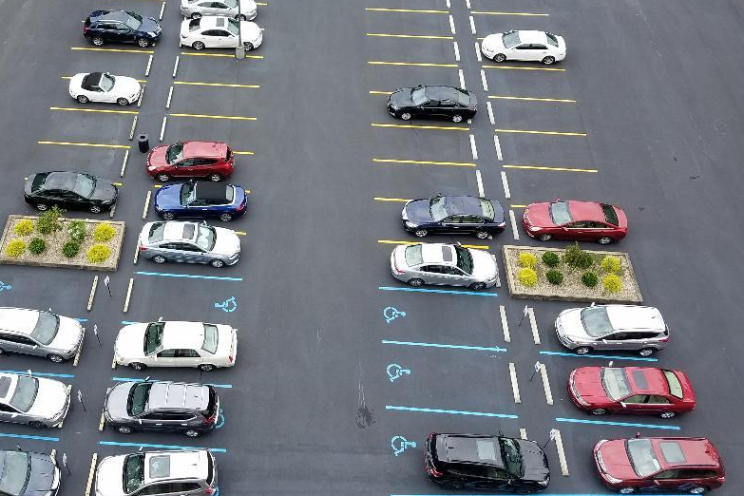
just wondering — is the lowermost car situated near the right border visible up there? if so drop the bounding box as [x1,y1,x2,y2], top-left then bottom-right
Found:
[593,427,734,495]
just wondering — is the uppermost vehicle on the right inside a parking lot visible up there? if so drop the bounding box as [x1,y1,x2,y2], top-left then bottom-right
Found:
[481,29,569,65]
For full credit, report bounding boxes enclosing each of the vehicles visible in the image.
[150,176,250,221]
[522,196,631,244]
[139,220,241,269]
[102,375,220,438]
[481,29,569,65]
[0,305,83,363]
[82,10,160,47]
[0,369,68,429]
[569,360,699,420]
[593,427,734,495]
[183,17,265,51]
[114,316,238,372]
[20,170,118,213]
[0,445,60,496]
[68,71,140,106]
[555,301,675,357]
[93,444,219,496]
[146,138,235,181]
[400,192,507,239]
[388,83,478,123]
[422,427,555,494]
[393,241,500,291]
[181,0,258,21]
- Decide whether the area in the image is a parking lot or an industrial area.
parking lot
